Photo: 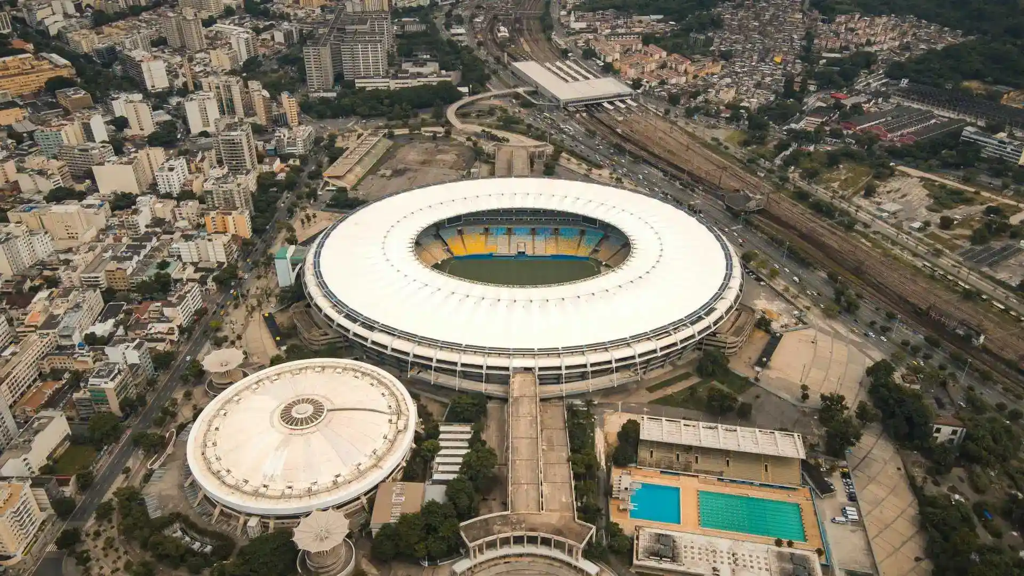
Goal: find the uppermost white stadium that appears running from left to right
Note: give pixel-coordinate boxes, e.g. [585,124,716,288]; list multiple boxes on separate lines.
[297,175,749,398]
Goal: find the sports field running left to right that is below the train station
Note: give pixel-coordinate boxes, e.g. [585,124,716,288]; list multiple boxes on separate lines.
[443,259,601,287]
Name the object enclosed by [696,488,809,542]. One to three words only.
swimming pool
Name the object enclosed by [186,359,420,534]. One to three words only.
stadium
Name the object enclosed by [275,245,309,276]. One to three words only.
building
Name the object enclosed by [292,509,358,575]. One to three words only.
building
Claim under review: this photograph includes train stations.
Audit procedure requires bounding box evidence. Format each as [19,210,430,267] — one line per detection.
[512,61,634,110]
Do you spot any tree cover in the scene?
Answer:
Yes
